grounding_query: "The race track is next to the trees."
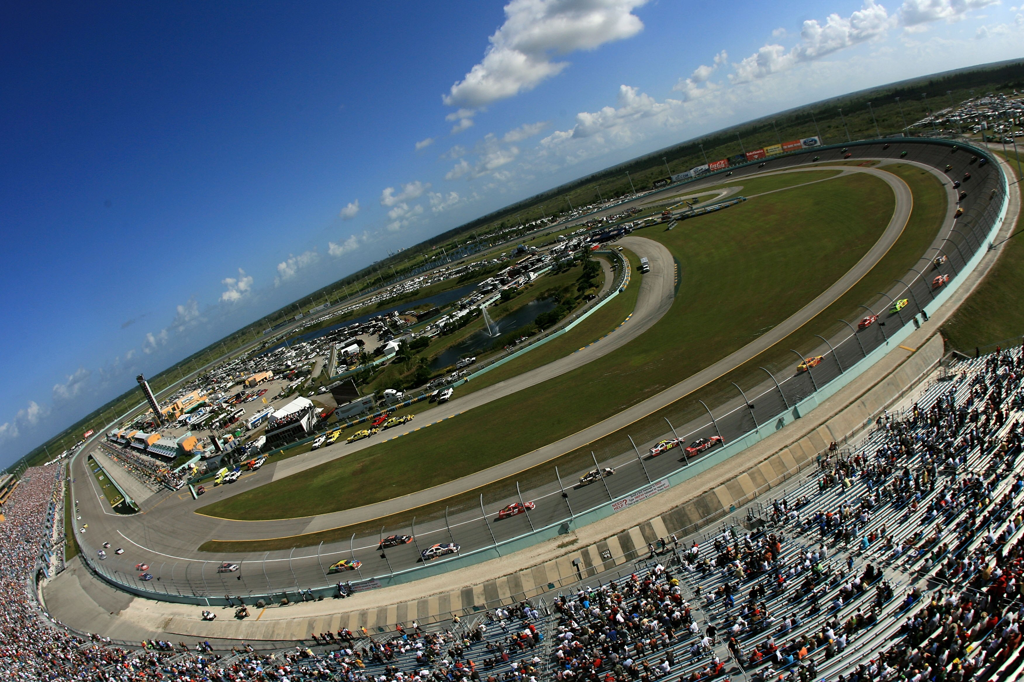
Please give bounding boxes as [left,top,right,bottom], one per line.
[72,140,1003,595]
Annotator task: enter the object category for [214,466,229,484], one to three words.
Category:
vehicle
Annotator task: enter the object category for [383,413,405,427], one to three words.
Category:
vehicle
